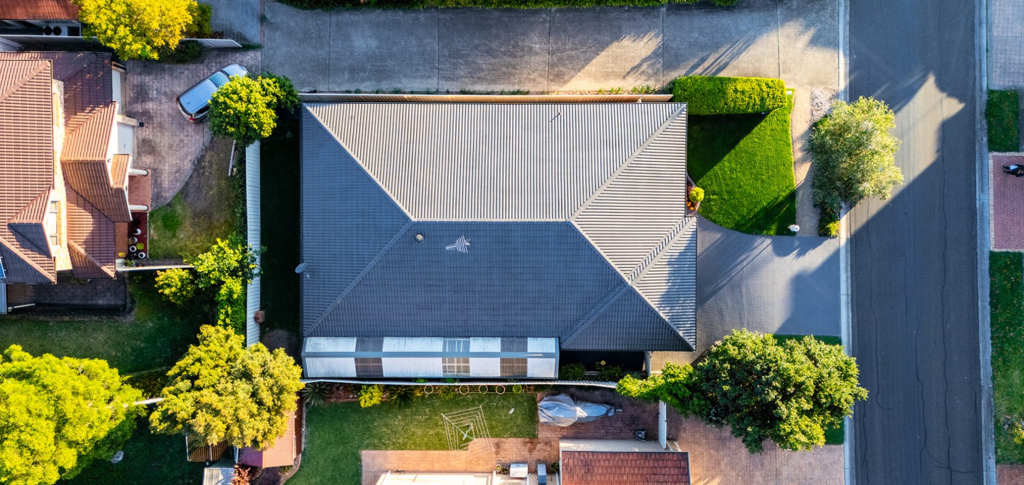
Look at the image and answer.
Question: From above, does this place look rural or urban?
urban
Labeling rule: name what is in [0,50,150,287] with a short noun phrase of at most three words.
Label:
house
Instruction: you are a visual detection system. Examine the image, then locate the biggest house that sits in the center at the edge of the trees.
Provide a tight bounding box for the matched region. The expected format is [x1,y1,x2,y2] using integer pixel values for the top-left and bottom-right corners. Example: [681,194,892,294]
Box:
[301,100,699,354]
